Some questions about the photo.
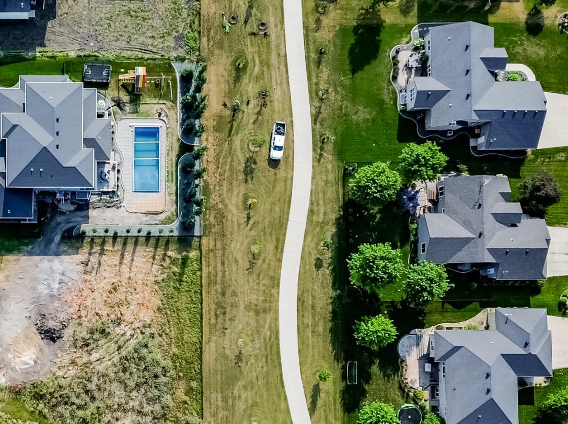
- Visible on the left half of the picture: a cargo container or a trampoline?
trampoline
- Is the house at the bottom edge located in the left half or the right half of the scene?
right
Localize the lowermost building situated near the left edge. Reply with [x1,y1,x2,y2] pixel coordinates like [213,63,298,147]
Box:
[0,75,113,218]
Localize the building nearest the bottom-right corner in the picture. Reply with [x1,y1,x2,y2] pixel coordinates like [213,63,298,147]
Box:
[423,307,553,424]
